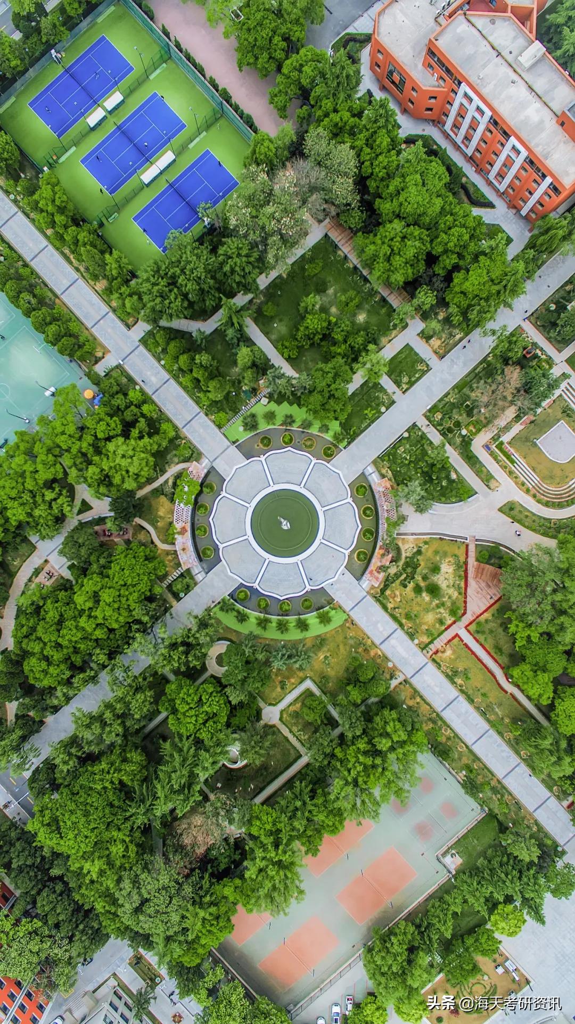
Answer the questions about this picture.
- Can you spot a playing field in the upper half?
No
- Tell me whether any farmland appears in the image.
No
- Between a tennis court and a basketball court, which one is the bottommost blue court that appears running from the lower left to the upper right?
tennis court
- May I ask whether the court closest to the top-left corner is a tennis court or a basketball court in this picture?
tennis court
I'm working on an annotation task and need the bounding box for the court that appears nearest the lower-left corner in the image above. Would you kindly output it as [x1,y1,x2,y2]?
[229,895,271,947]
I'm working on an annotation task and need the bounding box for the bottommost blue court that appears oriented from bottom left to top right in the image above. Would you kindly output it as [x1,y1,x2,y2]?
[133,150,235,253]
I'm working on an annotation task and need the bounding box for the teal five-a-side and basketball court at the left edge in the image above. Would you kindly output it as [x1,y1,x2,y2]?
[0,281,116,498]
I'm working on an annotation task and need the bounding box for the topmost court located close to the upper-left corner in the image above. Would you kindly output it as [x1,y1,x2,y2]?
[28,34,134,138]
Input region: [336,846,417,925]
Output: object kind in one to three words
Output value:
sports court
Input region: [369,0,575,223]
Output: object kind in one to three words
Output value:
building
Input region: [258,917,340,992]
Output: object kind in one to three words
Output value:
sports court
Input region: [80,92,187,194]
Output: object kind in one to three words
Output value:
tennis court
